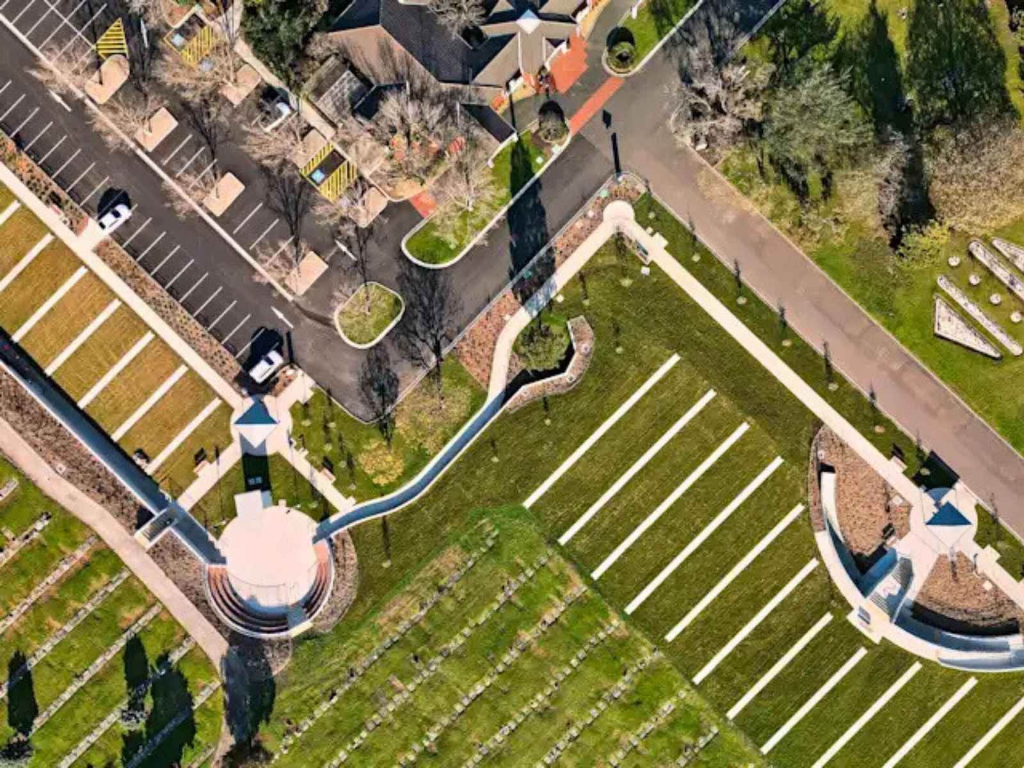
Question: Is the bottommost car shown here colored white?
Yes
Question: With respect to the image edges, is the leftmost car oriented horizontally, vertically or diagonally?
diagonally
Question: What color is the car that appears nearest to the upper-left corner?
white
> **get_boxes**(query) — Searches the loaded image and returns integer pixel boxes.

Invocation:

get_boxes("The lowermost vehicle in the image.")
[245,349,284,384]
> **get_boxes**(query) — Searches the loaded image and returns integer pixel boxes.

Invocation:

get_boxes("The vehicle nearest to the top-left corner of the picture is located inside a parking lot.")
[95,201,134,235]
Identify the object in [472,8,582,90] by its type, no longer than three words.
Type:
building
